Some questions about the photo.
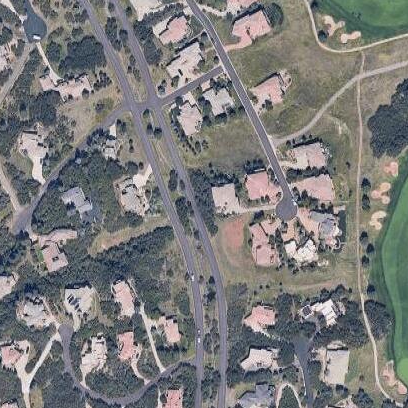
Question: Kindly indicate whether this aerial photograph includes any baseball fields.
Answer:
No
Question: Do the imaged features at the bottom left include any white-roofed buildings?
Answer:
Yes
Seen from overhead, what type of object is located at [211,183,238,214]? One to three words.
house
